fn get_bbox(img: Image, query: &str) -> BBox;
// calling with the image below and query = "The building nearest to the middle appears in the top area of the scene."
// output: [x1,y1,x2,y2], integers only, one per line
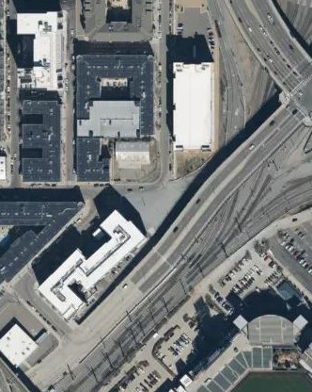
[116,141,150,168]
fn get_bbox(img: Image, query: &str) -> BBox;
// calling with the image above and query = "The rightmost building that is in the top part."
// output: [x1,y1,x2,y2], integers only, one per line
[173,62,216,149]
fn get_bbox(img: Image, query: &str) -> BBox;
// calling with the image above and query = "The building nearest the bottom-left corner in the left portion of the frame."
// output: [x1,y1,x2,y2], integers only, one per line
[0,324,39,367]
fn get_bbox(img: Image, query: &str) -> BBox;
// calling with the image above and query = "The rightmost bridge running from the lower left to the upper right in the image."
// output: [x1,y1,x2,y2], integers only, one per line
[77,104,305,340]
